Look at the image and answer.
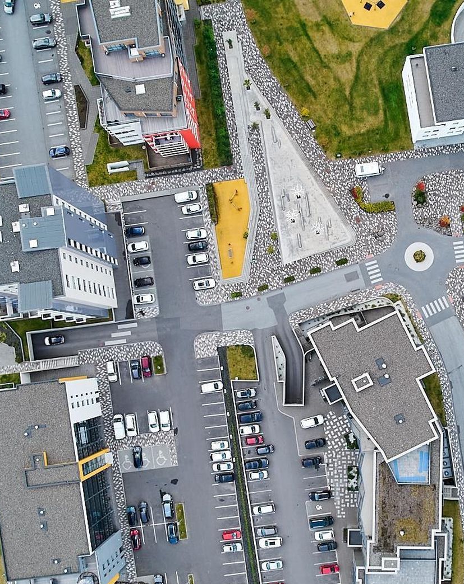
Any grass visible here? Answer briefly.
Yes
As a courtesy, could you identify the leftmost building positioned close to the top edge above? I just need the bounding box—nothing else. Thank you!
[77,0,202,160]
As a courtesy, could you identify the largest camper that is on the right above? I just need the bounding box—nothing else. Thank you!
[355,162,384,179]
